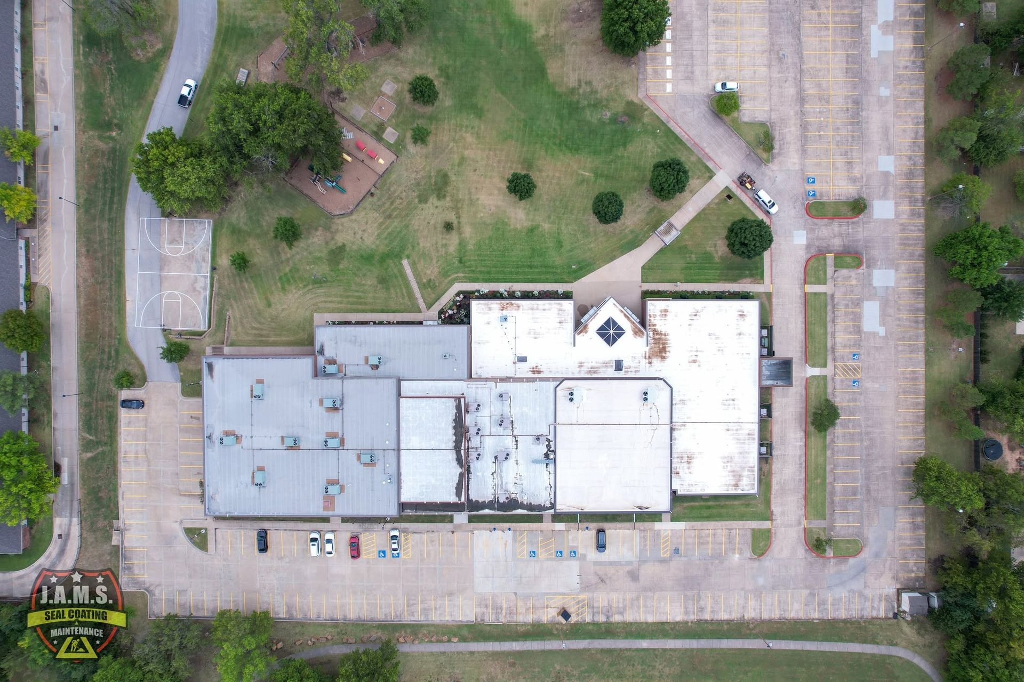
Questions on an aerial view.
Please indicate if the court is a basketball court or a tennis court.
basketball court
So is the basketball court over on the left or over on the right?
left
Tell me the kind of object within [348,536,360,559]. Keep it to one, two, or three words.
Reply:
vehicle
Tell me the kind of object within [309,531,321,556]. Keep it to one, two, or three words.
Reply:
vehicle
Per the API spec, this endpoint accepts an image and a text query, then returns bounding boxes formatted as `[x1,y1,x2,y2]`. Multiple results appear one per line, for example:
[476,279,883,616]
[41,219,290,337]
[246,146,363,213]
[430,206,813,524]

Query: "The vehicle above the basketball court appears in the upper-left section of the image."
[178,79,197,109]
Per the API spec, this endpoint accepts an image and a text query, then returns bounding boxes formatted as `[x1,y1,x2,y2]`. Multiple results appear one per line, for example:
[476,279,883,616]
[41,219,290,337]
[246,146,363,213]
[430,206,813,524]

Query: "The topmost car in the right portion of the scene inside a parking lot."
[715,80,739,92]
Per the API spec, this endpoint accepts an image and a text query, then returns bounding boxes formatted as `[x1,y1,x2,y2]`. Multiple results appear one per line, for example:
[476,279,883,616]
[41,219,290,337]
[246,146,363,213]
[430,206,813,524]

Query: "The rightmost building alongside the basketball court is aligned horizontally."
[202,297,760,518]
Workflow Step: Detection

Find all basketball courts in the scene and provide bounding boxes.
[135,216,213,331]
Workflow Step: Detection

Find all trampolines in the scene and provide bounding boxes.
[983,441,1003,460]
